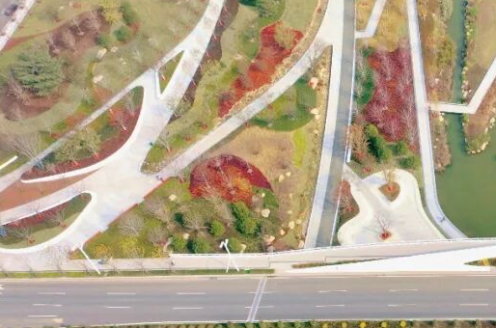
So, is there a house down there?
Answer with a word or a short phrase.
No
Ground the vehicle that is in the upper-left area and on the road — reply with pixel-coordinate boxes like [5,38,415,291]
[4,3,17,15]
